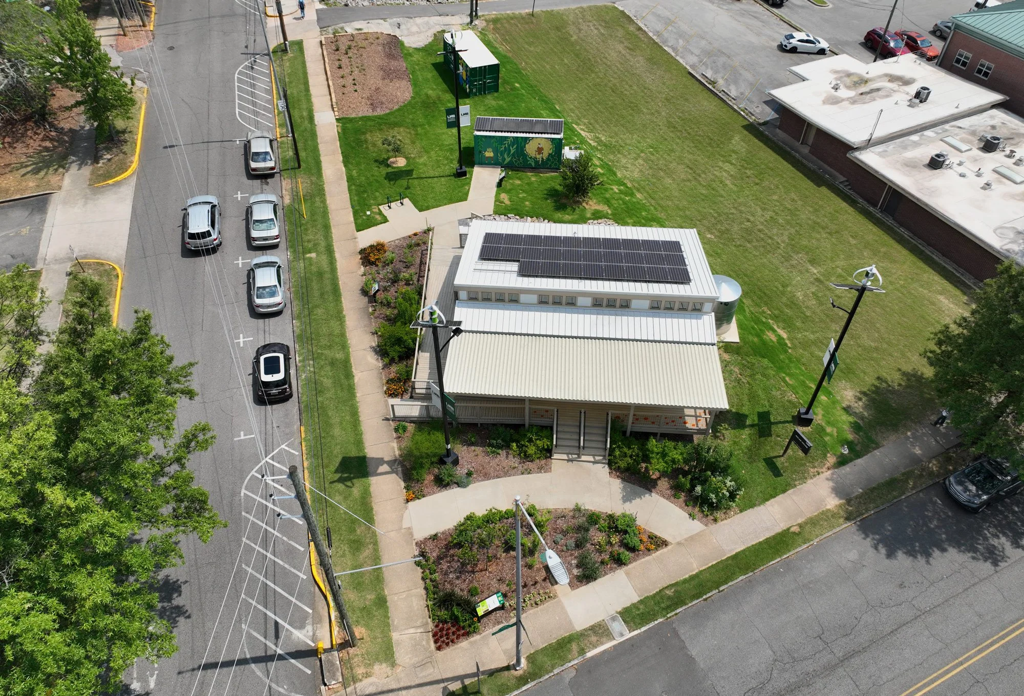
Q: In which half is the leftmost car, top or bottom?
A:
top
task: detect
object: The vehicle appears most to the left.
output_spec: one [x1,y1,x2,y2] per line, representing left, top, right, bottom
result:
[185,200,223,256]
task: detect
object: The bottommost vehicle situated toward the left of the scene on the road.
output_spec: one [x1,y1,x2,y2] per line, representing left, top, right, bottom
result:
[250,344,293,407]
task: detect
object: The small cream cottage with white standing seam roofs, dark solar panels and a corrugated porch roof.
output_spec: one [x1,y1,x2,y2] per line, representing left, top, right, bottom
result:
[387,219,727,466]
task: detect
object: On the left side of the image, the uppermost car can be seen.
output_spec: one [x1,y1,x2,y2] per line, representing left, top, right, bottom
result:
[246,132,279,178]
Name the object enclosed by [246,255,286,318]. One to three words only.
car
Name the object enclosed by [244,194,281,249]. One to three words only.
car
